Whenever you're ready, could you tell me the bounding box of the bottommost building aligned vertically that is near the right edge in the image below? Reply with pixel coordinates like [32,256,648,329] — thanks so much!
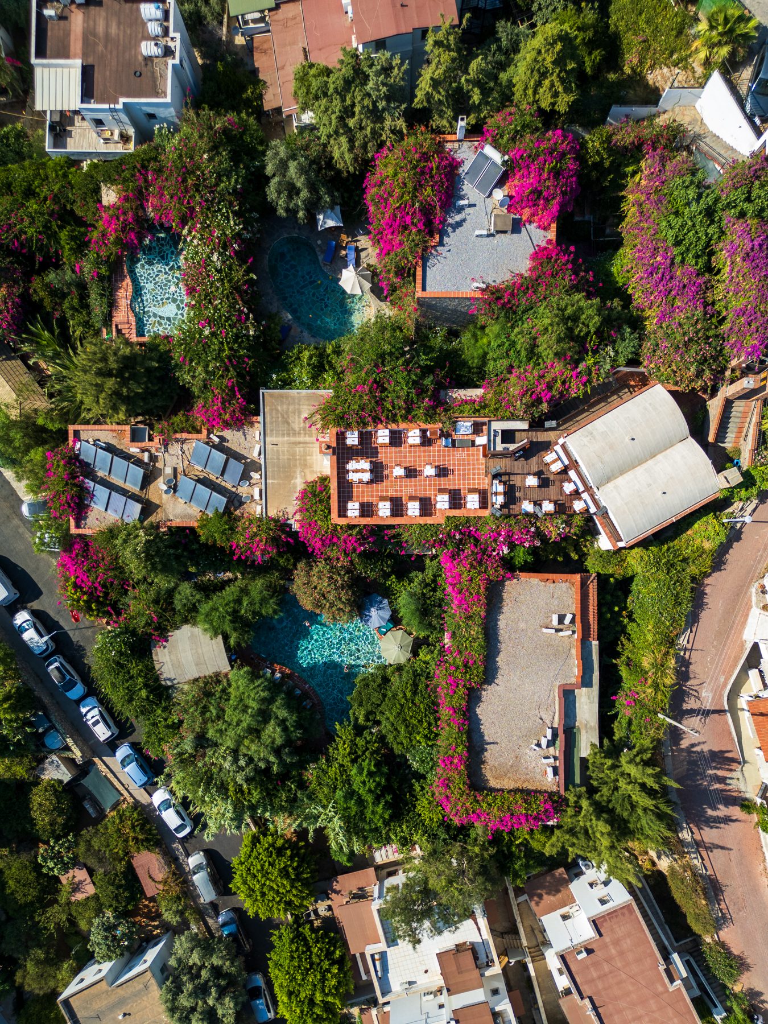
[728,682,768,765]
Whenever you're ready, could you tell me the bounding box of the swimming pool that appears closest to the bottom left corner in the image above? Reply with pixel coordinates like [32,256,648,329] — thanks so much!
[243,592,411,741]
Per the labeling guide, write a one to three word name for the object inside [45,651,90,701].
car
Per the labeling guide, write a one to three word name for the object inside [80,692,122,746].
car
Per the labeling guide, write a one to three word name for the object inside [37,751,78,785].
shed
